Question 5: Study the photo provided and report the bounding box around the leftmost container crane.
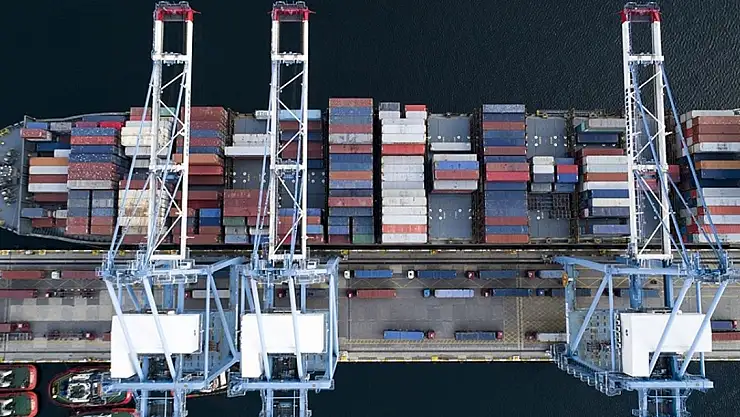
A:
[99,2,253,417]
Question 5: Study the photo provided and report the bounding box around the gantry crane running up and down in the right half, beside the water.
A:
[546,2,735,417]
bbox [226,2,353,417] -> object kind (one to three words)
container crane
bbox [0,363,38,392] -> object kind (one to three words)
boat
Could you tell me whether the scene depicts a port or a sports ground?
port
